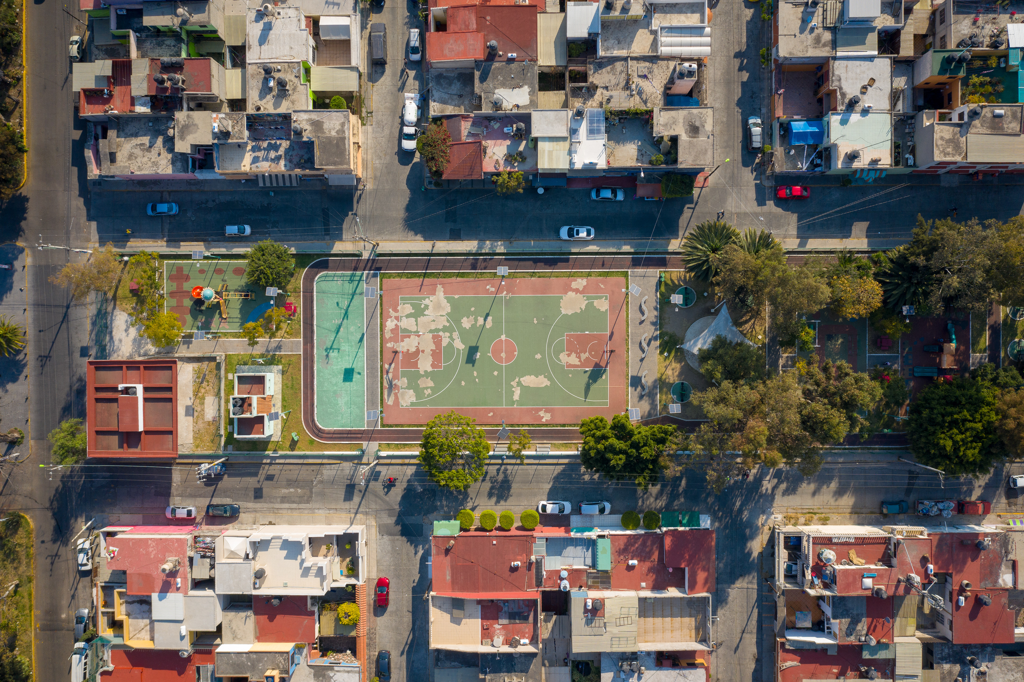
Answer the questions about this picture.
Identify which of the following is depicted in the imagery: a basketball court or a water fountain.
basketball court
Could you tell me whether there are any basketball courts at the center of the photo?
Yes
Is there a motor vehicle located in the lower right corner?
Yes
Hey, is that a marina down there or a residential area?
residential area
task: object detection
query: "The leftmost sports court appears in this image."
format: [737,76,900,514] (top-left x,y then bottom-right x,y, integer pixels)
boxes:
[315,272,364,428]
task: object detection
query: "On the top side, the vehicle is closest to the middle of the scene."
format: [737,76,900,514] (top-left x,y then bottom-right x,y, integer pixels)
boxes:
[559,225,594,241]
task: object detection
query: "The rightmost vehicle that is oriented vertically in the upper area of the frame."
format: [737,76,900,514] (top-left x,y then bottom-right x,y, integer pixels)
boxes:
[745,117,763,153]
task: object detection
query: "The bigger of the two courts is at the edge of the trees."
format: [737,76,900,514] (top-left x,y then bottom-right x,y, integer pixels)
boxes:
[382,279,626,424]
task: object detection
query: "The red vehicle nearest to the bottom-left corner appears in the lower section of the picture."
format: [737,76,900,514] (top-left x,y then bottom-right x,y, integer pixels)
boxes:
[375,575,391,607]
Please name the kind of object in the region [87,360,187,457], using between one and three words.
building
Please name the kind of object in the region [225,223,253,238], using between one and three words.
car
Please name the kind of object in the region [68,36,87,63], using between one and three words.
car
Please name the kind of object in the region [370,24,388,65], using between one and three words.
vehicle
